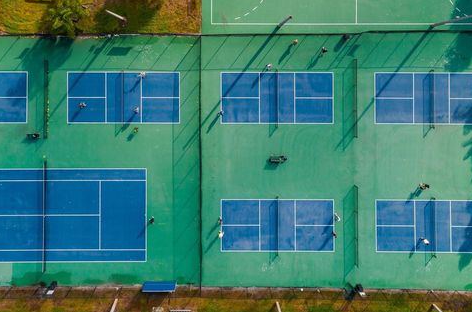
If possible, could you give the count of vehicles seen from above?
0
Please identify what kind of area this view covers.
sports ground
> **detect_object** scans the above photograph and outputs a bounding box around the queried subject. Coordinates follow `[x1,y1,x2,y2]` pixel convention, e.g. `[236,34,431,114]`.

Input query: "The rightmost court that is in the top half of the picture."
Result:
[374,73,472,124]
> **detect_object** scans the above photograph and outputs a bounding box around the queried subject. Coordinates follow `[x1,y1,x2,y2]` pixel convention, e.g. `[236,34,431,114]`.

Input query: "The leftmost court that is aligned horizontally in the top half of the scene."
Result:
[67,71,180,123]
